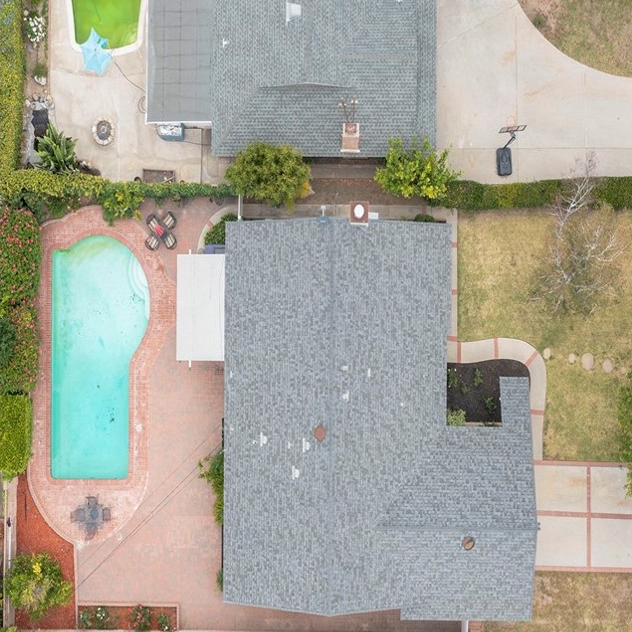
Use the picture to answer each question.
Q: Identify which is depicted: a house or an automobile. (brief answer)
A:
house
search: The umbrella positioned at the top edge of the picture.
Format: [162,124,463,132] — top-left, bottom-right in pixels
[81,29,113,74]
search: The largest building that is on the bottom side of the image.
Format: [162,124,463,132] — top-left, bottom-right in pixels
[177,201,541,620]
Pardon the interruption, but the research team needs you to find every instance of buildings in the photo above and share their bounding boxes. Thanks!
[177,201,541,620]
[145,0,436,162]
